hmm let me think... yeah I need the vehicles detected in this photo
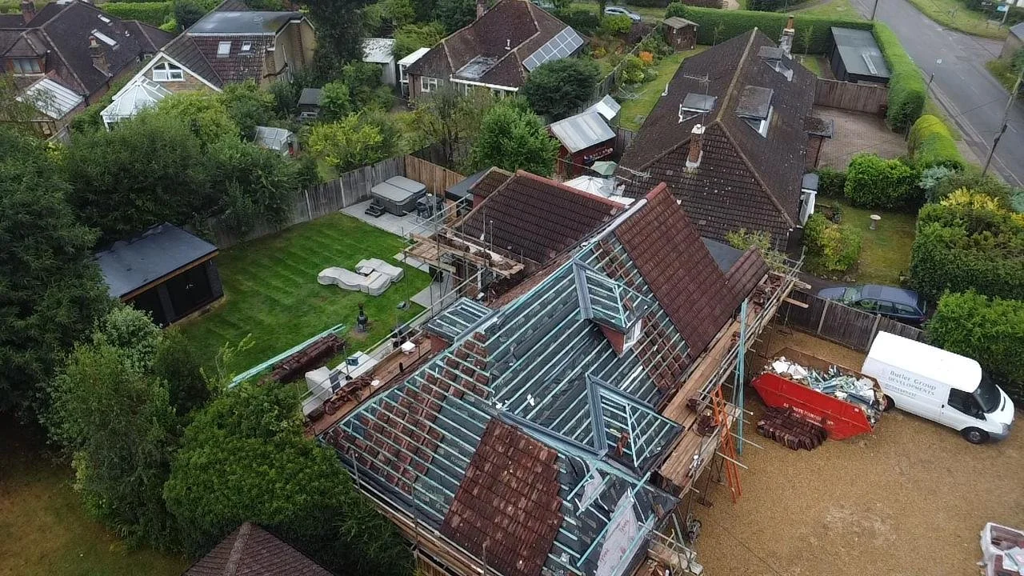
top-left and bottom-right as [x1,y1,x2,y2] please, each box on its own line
[817,283,936,334]
[863,333,1019,448]
[605,6,645,21]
